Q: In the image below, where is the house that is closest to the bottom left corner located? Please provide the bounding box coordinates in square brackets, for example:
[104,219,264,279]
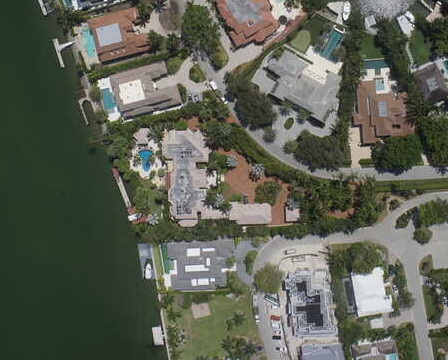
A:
[169,241,235,291]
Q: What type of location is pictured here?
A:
residential area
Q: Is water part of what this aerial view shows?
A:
Yes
